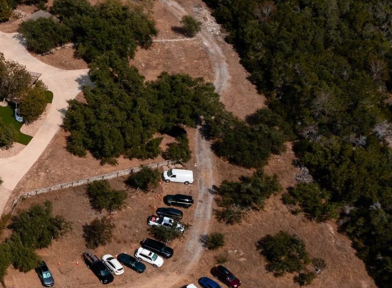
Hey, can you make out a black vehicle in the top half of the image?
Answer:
No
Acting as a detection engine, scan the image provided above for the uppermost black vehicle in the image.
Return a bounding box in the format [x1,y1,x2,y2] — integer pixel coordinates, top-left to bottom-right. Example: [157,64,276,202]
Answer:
[164,194,195,208]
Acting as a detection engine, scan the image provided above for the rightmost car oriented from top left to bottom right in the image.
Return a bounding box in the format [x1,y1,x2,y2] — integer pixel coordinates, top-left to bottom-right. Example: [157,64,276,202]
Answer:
[210,263,242,288]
